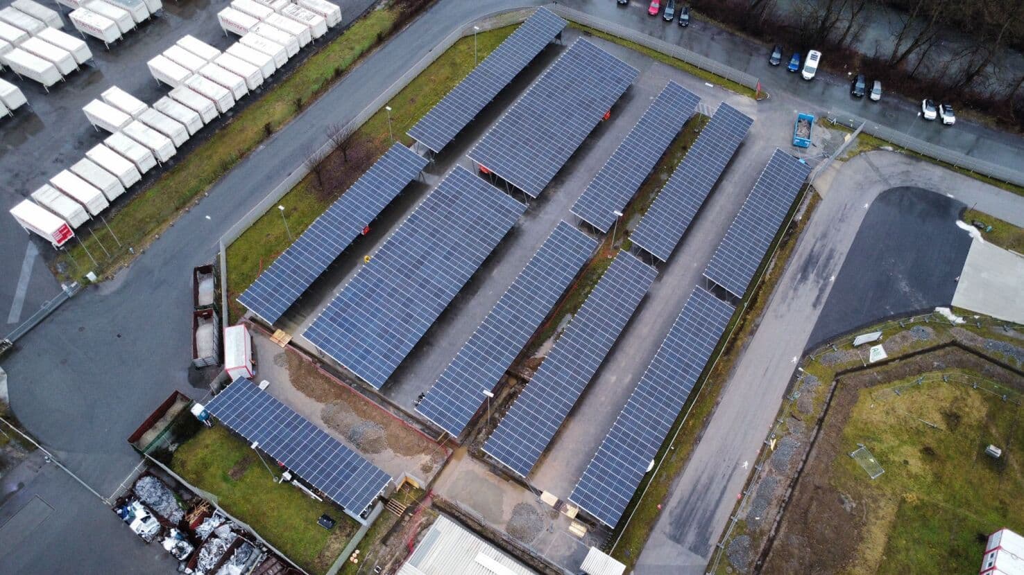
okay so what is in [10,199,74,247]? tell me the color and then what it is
white shipping container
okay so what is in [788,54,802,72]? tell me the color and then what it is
blue car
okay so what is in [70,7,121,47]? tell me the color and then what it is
white shipping container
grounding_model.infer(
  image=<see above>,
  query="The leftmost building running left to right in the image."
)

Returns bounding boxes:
[399,515,533,575]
